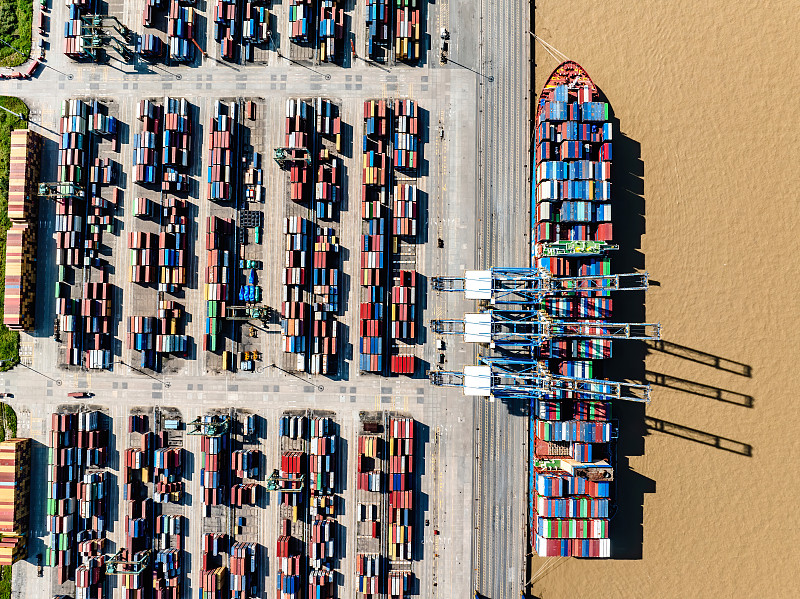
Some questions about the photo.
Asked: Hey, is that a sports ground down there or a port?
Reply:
port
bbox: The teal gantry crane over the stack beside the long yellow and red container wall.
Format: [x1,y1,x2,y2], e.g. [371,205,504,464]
[37,183,89,205]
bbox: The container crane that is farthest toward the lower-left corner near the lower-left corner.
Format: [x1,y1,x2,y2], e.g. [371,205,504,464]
[102,545,152,575]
